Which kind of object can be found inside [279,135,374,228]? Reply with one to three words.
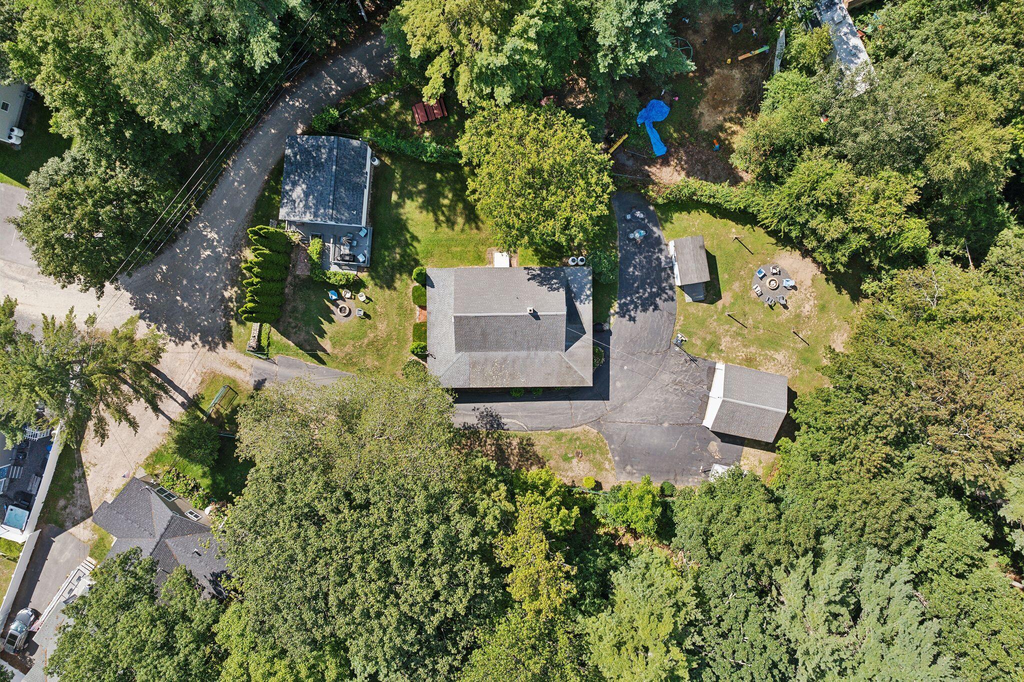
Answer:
house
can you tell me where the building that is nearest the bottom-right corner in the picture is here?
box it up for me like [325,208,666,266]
[704,364,787,443]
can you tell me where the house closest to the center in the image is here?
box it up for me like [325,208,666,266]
[427,252,593,388]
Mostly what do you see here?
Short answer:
trees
